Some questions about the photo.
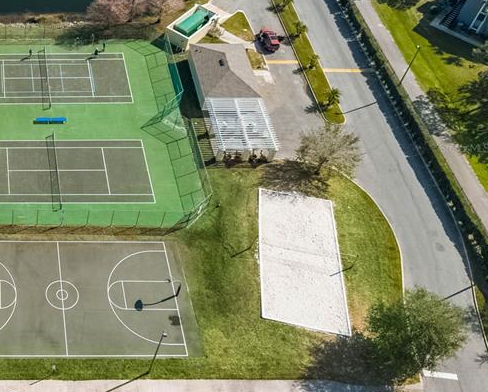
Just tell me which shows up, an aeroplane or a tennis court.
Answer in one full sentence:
I can see a tennis court in this picture.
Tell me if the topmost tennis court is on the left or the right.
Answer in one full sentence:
You can find the topmost tennis court on the left side of the picture.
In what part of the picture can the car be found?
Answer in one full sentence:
Look in the top portion of the view to spot the car.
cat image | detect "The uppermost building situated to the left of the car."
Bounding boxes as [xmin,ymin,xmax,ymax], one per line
[186,44,263,112]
